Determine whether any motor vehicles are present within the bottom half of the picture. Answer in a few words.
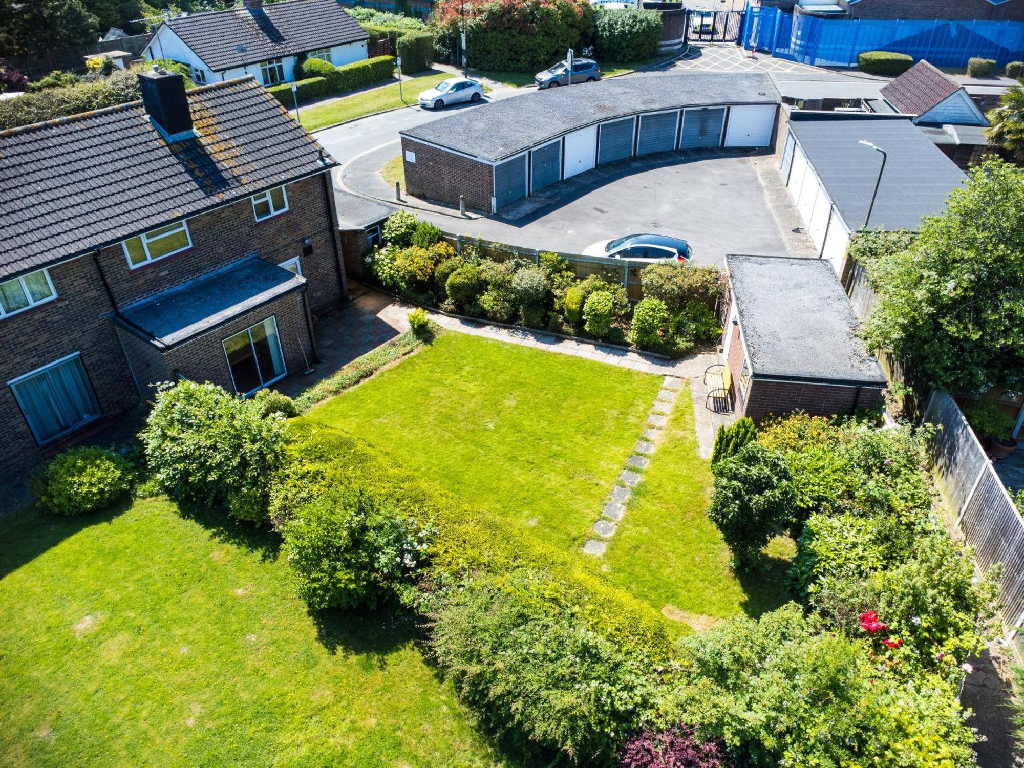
No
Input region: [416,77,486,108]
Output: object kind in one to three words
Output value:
car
